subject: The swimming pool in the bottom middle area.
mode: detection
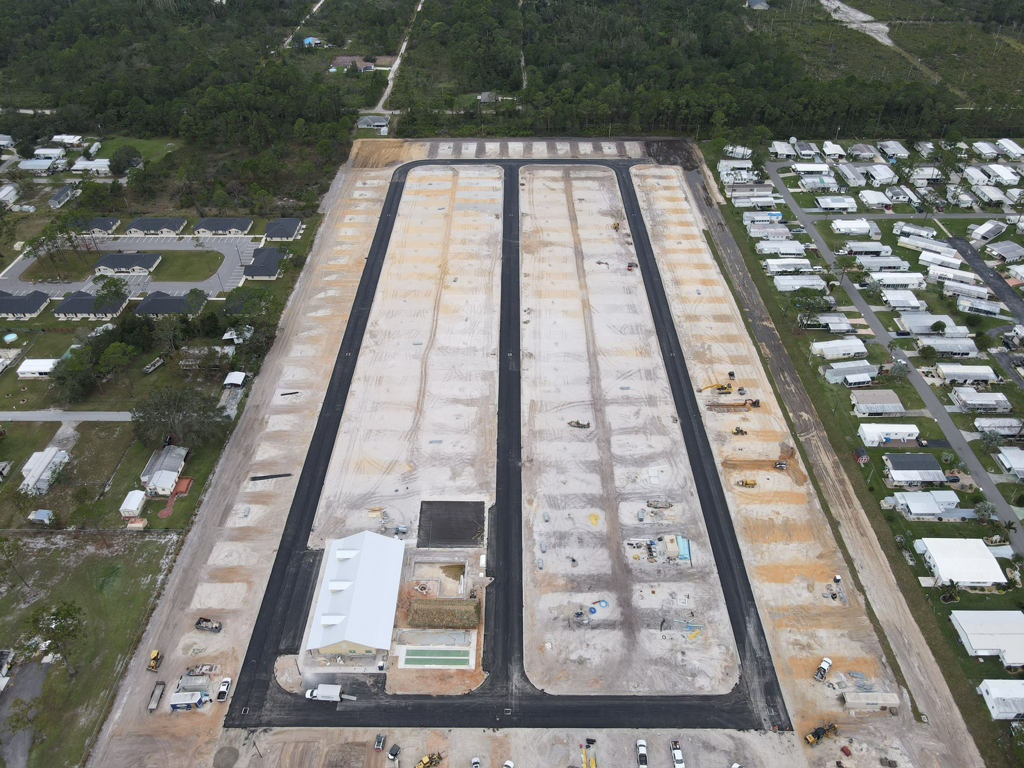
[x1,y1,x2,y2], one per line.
[410,560,466,597]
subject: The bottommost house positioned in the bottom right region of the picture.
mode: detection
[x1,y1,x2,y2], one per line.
[979,679,1024,719]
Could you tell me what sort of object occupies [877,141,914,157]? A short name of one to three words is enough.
house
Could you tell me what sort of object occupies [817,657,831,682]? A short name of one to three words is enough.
vehicle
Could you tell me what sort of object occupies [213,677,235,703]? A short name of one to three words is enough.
truck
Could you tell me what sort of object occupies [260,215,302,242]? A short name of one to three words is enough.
building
